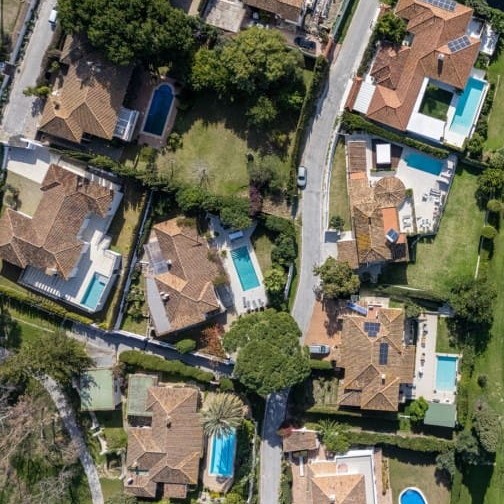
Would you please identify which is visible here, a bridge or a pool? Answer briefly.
pool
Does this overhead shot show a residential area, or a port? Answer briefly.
residential area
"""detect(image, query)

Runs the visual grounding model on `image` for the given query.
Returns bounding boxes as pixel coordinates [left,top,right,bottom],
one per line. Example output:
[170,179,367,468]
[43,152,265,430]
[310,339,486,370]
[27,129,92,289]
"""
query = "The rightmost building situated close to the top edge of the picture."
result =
[366,0,481,144]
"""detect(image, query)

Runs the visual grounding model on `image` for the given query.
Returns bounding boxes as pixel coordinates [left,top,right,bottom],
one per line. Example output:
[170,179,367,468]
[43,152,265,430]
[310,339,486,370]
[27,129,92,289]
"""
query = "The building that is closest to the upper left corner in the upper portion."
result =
[39,30,142,142]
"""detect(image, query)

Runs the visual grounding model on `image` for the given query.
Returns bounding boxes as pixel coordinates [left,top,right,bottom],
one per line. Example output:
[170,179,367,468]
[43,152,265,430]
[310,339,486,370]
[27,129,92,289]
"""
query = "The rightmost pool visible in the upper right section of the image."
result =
[448,76,488,139]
